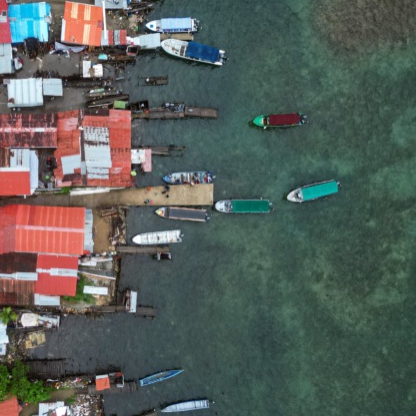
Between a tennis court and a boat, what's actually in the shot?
boat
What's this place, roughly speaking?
residential area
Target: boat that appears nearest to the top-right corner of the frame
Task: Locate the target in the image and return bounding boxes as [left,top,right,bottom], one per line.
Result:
[254,112,308,125]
